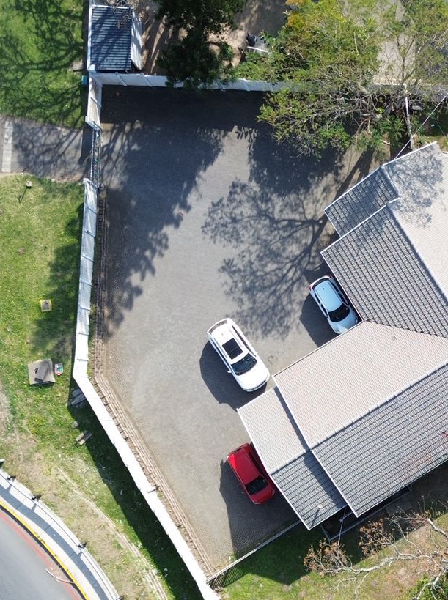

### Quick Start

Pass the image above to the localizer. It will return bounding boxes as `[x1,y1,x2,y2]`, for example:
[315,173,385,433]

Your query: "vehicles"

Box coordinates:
[210,319,268,393]
[225,442,274,503]
[307,274,356,334]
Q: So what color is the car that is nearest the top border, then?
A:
blue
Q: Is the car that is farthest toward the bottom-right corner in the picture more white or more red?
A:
red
